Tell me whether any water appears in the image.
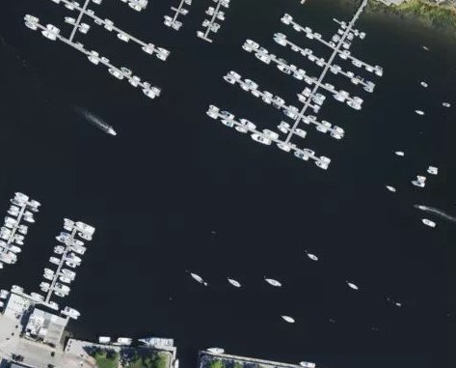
Yes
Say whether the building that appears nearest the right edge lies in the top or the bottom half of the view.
bottom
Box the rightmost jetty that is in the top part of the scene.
[213,0,376,162]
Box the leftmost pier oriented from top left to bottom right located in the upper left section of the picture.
[33,0,165,96]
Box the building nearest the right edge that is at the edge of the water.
[43,316,69,348]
